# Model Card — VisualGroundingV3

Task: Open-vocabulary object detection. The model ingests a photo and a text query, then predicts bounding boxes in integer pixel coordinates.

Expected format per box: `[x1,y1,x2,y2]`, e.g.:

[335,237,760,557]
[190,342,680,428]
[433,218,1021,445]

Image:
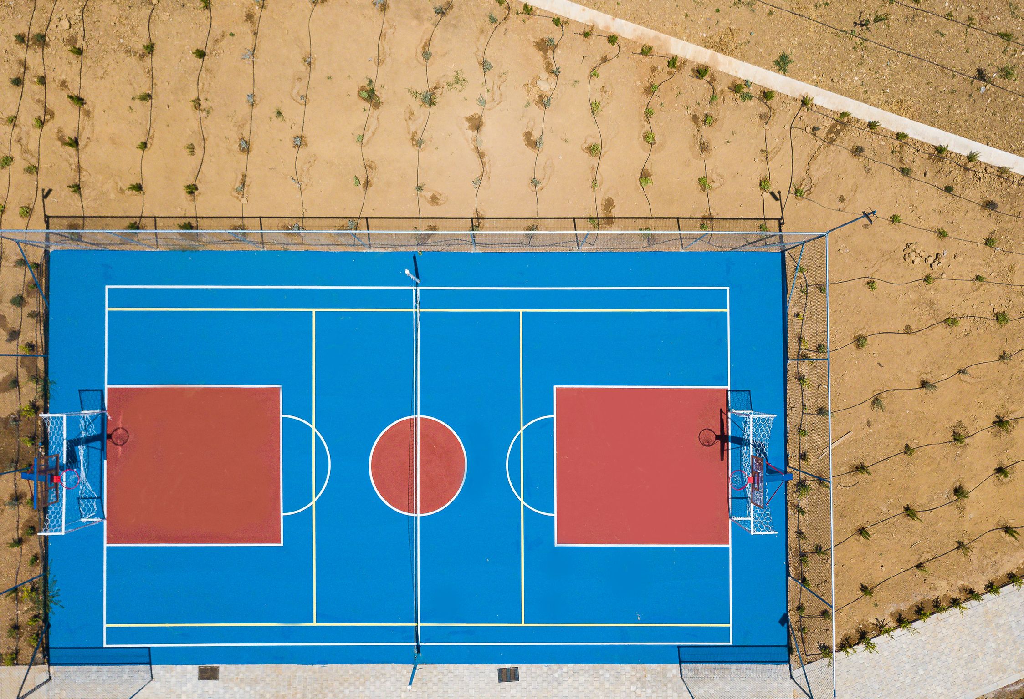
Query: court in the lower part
[48,249,790,666]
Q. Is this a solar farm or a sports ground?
sports ground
